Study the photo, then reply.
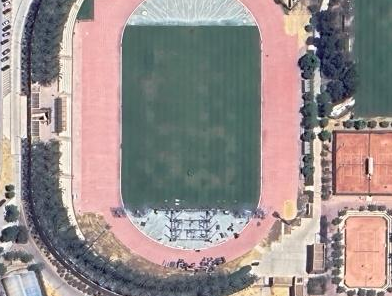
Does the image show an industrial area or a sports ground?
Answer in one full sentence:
What you see here is a sports ground.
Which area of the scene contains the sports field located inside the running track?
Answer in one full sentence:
You can find the sports field located inside the running track in the center area of the picture.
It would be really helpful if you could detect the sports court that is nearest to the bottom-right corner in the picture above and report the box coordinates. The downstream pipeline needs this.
[339,210,392,290]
